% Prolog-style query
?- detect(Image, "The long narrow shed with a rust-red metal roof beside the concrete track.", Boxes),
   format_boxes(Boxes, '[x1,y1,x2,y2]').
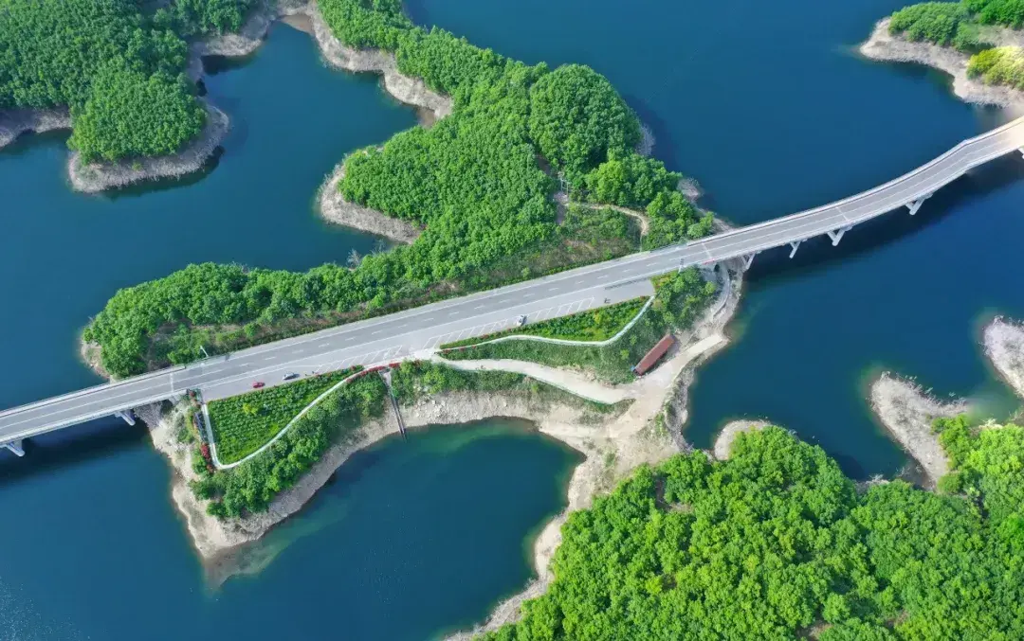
[635,335,677,378]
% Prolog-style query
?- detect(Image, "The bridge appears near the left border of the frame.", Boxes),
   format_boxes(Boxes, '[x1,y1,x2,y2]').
[0,361,195,457]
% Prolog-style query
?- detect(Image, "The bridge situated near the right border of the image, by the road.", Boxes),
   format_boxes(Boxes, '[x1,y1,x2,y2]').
[684,115,1024,273]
